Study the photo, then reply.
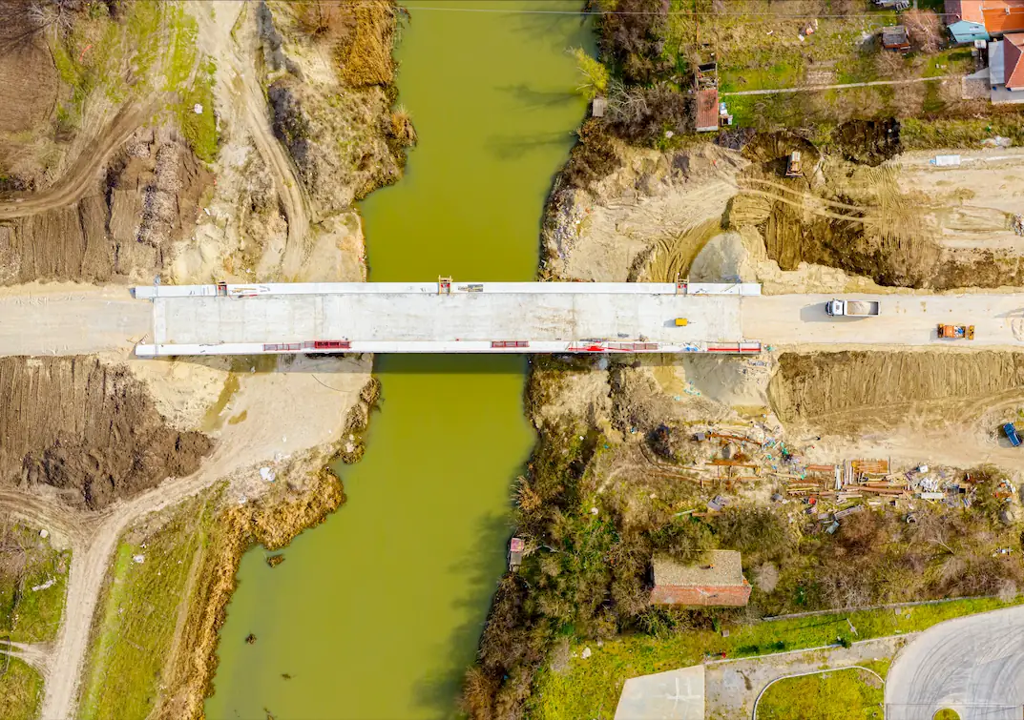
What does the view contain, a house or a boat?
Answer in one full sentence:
Of the two, only a house appears.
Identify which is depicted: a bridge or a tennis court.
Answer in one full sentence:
This aerial view contains a bridge.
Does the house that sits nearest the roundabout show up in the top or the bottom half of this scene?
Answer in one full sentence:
You can find the house that sits nearest the roundabout in the bottom half.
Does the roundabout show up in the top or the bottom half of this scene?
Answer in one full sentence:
The roundabout is in the bottom half of the image.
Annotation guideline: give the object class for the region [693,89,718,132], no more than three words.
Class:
shed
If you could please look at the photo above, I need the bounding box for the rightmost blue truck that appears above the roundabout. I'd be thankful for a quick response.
[999,421,1023,448]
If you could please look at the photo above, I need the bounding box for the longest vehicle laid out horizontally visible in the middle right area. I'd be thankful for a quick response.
[819,297,881,319]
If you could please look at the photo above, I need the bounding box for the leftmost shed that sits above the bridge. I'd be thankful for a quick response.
[591,97,607,123]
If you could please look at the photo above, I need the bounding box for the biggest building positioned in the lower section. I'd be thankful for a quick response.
[649,549,752,606]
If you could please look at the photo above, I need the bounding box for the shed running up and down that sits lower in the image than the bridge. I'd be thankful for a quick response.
[511,534,523,565]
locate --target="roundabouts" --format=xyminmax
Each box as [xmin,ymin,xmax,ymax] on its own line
[884,606,1024,720]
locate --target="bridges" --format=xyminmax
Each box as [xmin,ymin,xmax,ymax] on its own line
[135,284,761,355]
